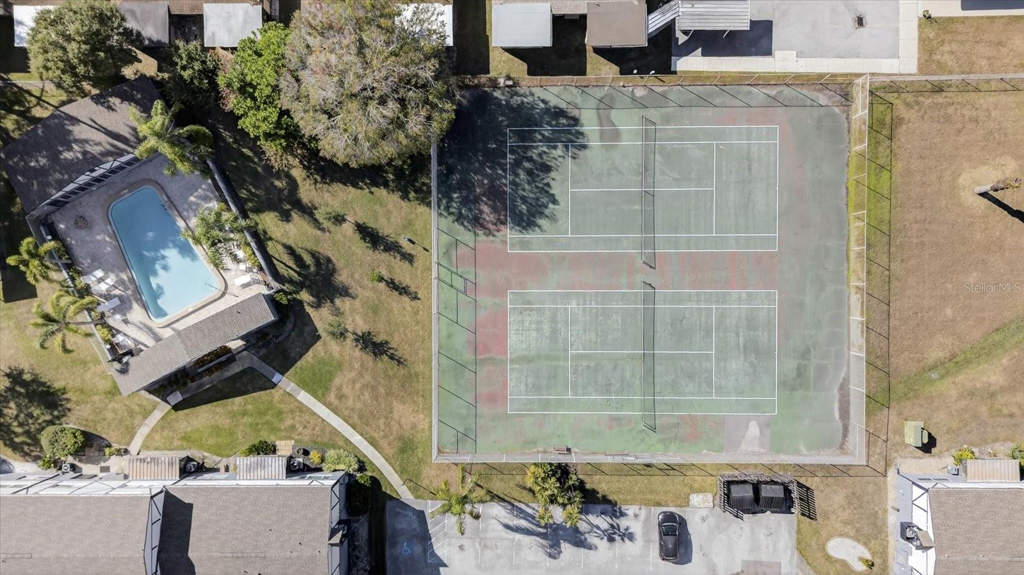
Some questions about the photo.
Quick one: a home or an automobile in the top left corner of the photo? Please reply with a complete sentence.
The one visible in the top left corner of the photo is a home.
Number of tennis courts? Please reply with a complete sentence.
In total, 2 tennis courts can be seen.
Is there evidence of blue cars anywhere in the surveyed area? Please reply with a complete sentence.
No, I can see no blue car in this picture.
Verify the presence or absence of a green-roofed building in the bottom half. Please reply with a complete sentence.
No, no green-roofed building can be made out in the bottom half.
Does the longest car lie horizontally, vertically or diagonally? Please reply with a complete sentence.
Seen from above, the longest car lies vertically.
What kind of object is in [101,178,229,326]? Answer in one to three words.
swimming pool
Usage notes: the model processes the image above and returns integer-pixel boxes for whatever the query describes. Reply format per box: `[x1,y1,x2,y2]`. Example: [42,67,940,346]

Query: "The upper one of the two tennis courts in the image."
[508,126,779,251]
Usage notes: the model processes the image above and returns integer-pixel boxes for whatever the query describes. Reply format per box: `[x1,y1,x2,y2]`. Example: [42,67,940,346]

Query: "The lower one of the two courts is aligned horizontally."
[508,291,779,414]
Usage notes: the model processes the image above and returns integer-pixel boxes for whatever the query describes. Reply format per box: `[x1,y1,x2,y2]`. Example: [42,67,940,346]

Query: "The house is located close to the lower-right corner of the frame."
[882,471,1024,575]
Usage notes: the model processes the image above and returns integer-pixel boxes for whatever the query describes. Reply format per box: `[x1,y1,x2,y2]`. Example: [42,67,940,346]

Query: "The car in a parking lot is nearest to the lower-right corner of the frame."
[658,513,683,564]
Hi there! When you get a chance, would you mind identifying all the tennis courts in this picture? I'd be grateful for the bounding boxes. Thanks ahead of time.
[508,126,779,251]
[508,291,779,414]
